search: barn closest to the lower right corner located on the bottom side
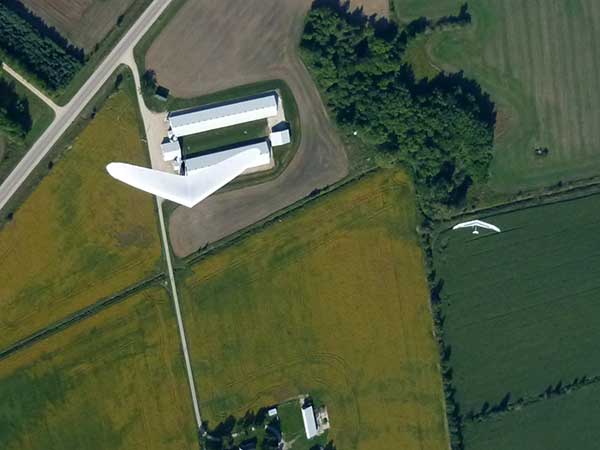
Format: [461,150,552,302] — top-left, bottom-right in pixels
[302,407,318,439]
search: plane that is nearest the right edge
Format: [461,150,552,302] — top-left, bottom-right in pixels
[452,220,500,233]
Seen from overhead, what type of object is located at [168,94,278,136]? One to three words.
barn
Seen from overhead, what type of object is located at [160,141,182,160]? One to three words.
barn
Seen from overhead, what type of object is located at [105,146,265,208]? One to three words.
airplane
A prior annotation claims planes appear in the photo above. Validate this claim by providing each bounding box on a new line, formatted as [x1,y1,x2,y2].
[452,220,500,233]
[105,146,265,208]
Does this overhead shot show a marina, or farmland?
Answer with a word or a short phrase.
farmland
